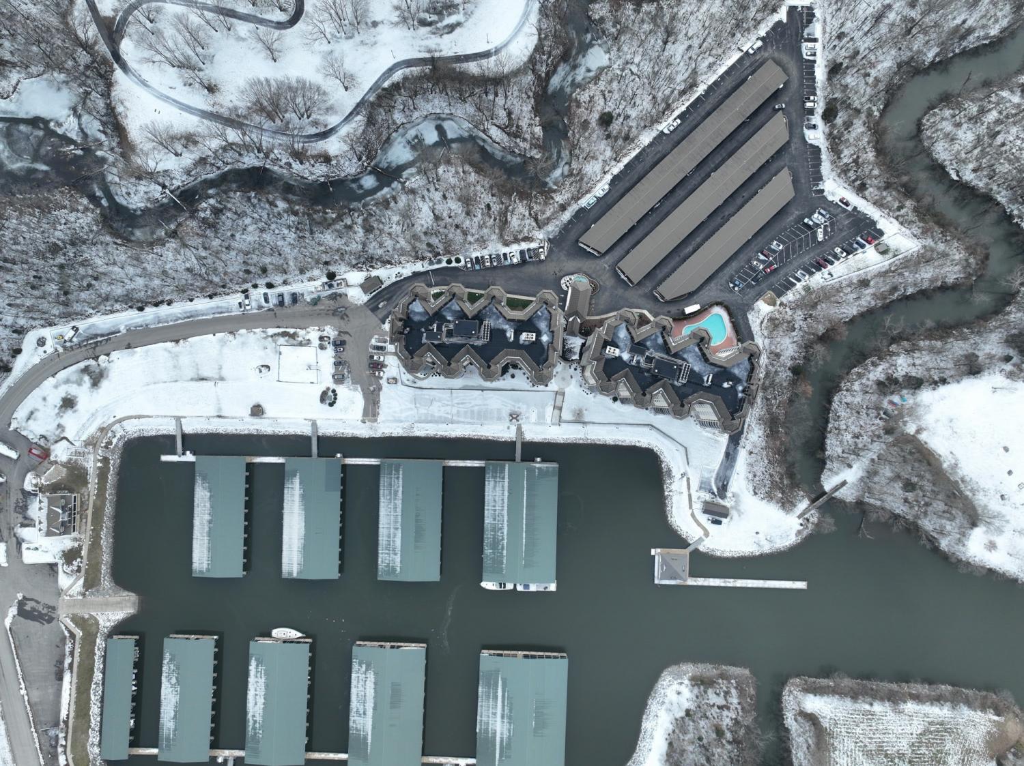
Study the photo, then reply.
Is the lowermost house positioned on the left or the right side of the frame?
right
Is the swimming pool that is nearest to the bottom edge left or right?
right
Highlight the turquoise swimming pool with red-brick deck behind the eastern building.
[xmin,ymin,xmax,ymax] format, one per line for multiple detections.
[671,305,738,354]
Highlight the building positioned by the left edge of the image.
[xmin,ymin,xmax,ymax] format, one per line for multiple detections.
[39,494,81,537]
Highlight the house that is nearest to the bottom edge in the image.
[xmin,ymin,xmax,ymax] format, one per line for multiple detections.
[654,548,689,585]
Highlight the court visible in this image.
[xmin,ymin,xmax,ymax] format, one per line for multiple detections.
[276,345,318,383]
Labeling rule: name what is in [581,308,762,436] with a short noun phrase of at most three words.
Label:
building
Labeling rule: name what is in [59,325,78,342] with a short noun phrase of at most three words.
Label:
vehicle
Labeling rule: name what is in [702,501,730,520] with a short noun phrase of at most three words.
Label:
building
